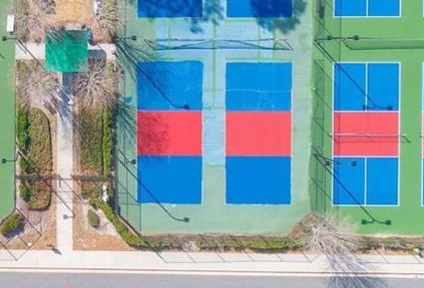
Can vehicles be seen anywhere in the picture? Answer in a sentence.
No, I can see no vehicle in this picture.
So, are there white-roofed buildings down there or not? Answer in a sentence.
No, I find no white-roofed building anywhere in the image.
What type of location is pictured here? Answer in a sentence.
This image shows a sports ground.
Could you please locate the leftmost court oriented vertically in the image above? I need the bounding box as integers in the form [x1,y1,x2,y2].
[135,60,204,206]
